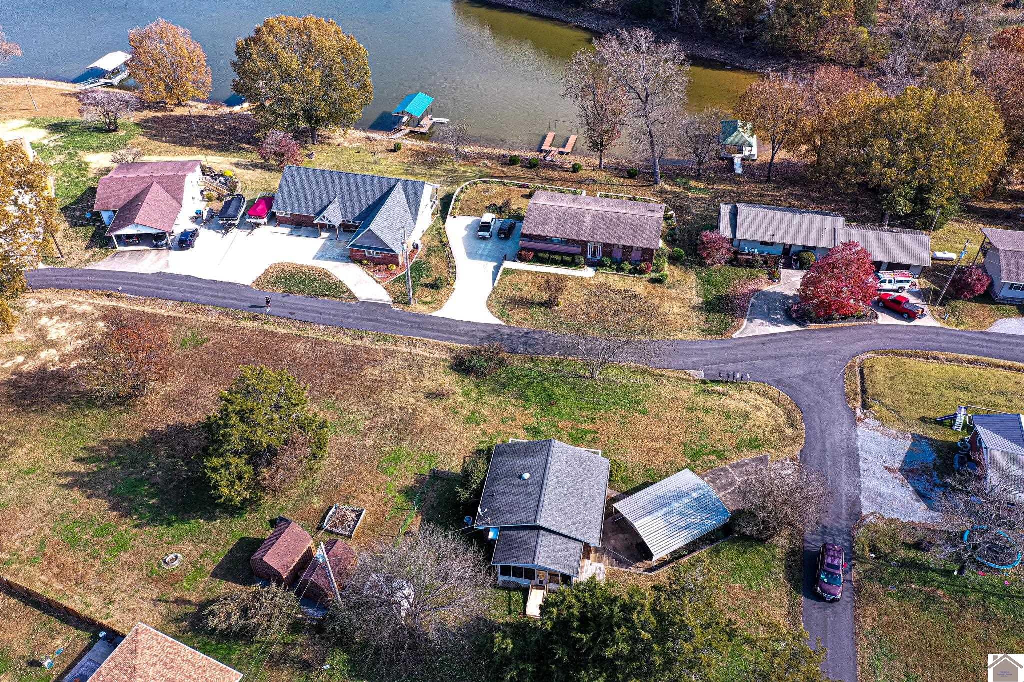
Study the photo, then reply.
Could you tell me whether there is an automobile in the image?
Yes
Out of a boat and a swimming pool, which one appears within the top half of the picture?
boat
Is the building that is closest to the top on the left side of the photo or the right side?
right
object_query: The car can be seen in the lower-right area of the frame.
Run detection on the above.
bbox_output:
[815,541,850,605]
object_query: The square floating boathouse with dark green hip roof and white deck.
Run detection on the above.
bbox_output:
[713,118,756,160]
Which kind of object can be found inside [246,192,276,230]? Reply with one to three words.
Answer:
boat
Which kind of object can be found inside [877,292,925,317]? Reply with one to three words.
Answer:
truck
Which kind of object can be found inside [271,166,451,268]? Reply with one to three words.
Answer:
house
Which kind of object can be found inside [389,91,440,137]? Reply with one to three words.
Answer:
pier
